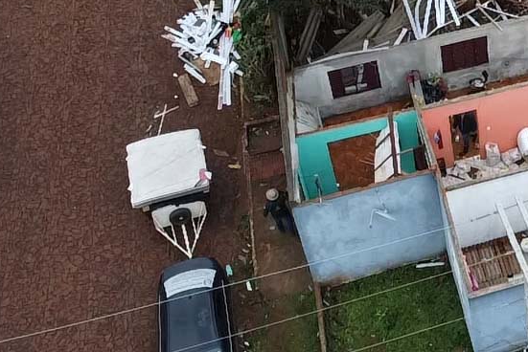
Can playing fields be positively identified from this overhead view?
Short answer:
No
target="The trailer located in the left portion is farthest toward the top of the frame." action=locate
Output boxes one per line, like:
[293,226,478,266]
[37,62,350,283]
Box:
[121,121,210,251]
